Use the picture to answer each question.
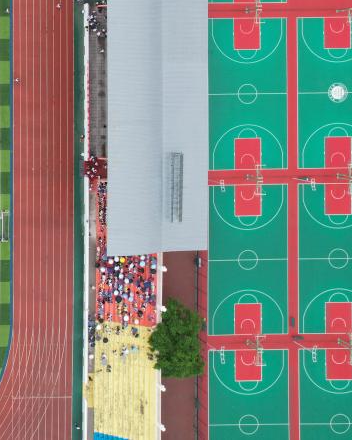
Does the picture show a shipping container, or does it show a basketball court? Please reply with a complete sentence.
The image shows a basketball court.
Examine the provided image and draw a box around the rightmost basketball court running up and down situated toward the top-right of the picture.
[297,17,352,168]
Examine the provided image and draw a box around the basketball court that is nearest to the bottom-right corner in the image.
[298,349,352,440]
